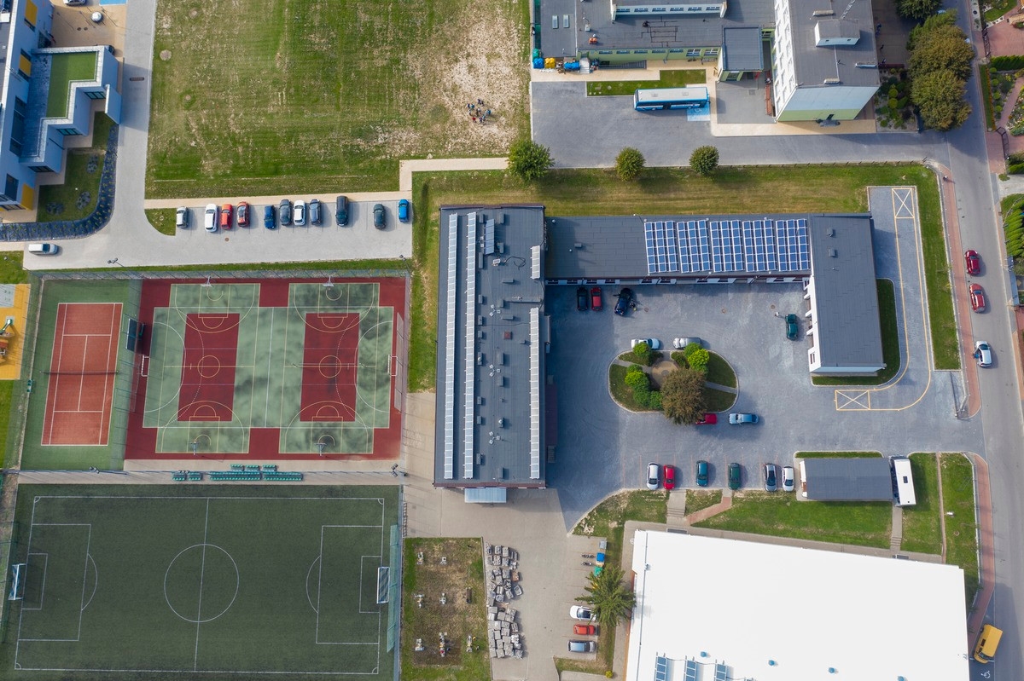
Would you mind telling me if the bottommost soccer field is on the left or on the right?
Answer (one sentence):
The bottommost soccer field sits on the left side.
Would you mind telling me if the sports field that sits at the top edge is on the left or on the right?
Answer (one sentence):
You can find the sports field that sits at the top edge on the left side of the picture.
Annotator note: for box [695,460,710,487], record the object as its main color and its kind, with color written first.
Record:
blue car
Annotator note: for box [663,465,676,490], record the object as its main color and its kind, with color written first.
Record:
red vehicle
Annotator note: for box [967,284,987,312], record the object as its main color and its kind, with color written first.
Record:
red car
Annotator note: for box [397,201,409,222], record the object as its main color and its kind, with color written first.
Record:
blue vehicle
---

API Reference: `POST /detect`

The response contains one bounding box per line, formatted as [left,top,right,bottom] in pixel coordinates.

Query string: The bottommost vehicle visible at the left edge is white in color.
[25,241,59,255]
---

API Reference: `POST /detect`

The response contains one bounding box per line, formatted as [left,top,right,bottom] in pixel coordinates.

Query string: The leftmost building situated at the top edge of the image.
[0,0,117,211]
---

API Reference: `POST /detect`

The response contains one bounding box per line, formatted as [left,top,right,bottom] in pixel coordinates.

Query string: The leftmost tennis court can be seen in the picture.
[20,279,141,470]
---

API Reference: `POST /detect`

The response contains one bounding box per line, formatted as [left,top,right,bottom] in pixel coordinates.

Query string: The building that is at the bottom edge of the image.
[623,530,970,681]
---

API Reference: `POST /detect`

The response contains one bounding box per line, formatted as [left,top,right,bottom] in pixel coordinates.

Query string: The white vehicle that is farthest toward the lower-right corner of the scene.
[891,457,918,507]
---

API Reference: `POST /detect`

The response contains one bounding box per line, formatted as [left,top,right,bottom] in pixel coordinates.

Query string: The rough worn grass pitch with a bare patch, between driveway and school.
[145,0,531,198]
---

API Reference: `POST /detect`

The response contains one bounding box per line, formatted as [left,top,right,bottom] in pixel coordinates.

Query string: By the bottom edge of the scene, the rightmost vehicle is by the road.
[975,622,1002,665]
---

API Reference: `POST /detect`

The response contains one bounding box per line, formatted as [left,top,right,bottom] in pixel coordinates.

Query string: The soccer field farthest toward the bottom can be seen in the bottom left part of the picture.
[4,486,401,681]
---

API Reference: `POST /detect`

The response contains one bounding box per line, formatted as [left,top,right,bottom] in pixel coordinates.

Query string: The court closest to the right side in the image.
[125,278,408,459]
